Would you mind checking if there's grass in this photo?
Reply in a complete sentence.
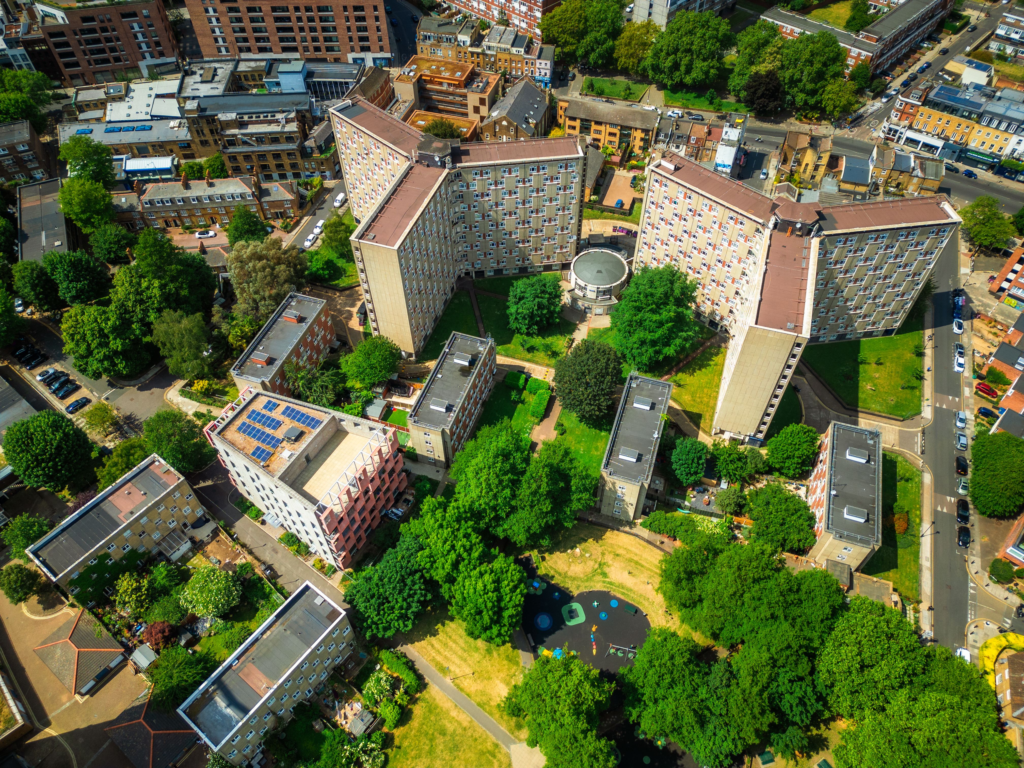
Yes, there's grass in this view.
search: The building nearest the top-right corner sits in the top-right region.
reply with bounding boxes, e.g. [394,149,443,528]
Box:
[986,8,1024,59]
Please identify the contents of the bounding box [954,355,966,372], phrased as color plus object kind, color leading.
white vehicle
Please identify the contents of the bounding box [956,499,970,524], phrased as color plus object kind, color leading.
black car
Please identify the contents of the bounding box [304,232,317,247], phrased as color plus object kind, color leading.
white vehicle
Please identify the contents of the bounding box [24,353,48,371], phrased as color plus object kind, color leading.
black car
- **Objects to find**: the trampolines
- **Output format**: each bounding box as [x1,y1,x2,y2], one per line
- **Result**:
[390,379,410,398]
[567,608,579,619]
